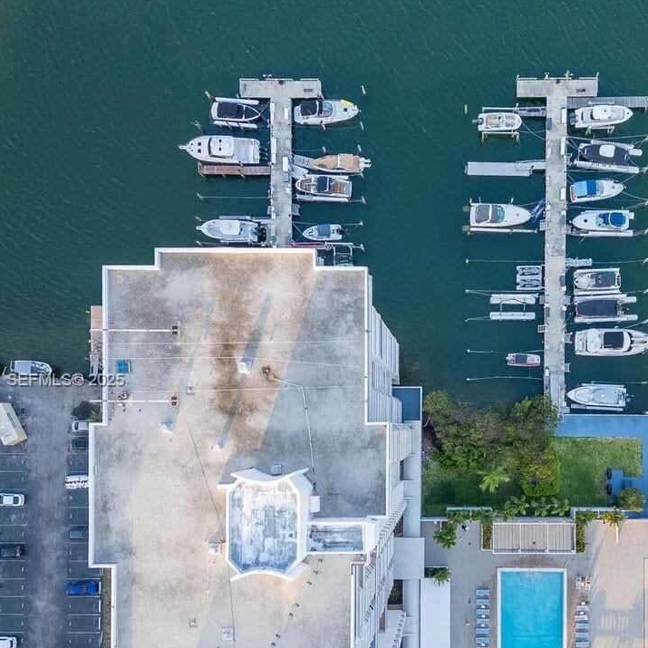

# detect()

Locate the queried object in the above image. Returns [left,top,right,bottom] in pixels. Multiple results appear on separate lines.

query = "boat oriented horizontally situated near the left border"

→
[12,358,55,376]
